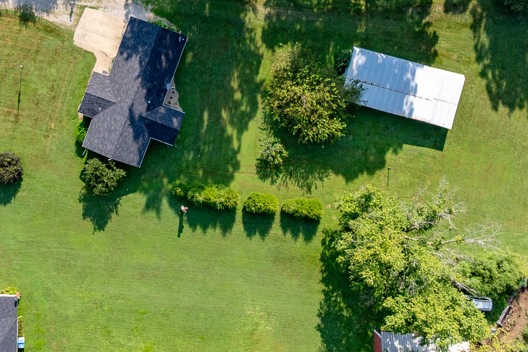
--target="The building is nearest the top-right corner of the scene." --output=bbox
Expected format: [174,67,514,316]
[337,47,464,133]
